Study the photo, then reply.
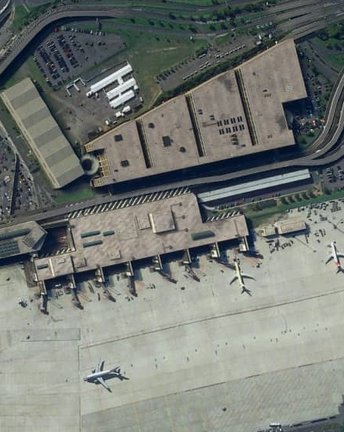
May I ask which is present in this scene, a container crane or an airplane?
airplane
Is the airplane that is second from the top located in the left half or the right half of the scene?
right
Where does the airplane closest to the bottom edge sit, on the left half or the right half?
left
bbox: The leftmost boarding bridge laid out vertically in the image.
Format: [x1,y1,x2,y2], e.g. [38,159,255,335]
[37,280,50,316]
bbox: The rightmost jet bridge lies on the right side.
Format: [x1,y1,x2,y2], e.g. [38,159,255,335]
[236,237,266,259]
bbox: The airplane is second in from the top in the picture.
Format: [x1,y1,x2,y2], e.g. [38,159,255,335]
[229,262,255,290]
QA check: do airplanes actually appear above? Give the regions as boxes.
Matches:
[229,262,255,290]
[83,356,122,390]
[325,241,344,270]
